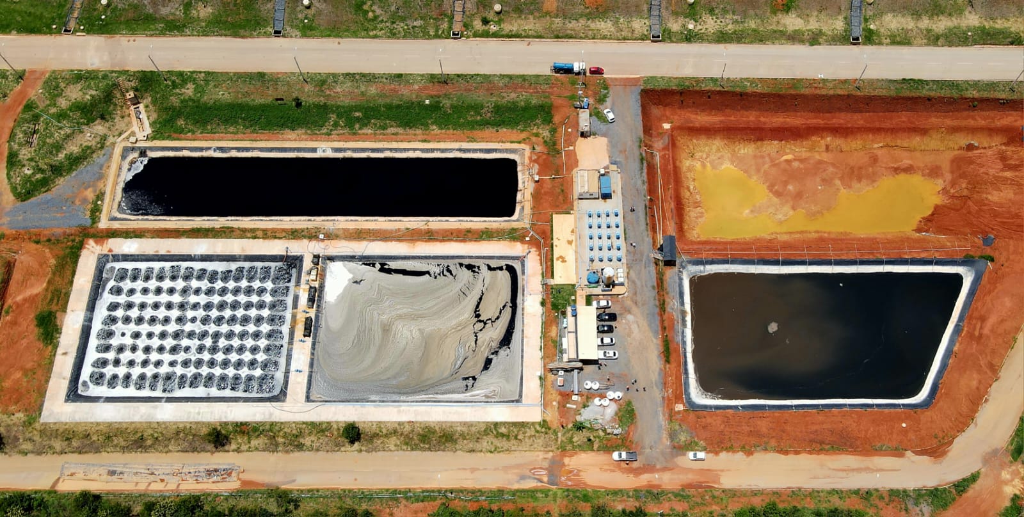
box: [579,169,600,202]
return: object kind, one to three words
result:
building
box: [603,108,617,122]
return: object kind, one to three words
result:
car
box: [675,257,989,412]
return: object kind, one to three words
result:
pond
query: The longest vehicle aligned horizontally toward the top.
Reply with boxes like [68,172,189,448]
[551,60,587,74]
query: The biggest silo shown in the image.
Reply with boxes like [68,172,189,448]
[600,269,617,296]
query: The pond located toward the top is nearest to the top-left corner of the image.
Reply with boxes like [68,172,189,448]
[109,146,520,223]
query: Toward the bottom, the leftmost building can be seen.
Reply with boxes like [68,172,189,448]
[563,306,598,363]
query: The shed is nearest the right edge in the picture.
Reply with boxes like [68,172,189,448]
[657,235,676,263]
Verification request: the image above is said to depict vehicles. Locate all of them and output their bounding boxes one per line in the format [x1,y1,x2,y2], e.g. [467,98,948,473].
[598,351,619,360]
[551,60,587,74]
[613,452,639,462]
[688,452,707,461]
[589,66,604,74]
[596,313,618,323]
[597,337,616,347]
[596,325,614,335]
[603,108,617,122]
[592,299,612,309]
